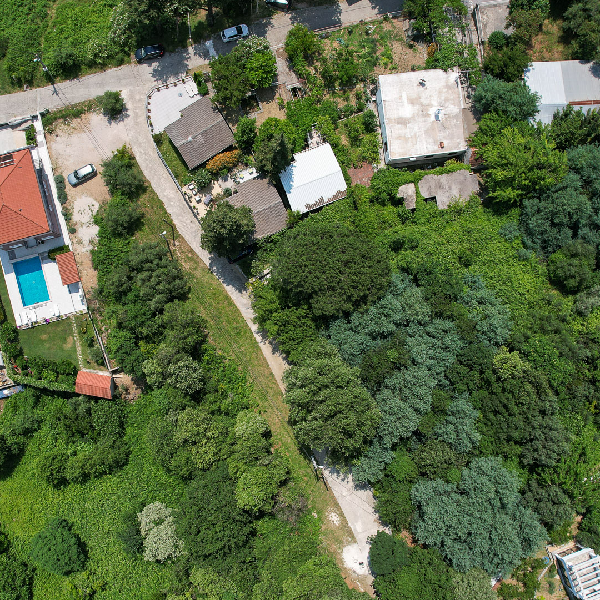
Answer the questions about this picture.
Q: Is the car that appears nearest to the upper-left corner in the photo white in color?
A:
No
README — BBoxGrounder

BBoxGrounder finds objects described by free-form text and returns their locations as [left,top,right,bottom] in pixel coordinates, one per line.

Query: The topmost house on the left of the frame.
[165,95,235,169]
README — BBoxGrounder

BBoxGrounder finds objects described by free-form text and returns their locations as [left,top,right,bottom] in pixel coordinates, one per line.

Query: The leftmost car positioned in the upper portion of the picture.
[66,162,100,188]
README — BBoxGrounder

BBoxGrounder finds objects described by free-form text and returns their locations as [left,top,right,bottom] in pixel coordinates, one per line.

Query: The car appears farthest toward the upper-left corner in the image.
[133,42,167,64]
